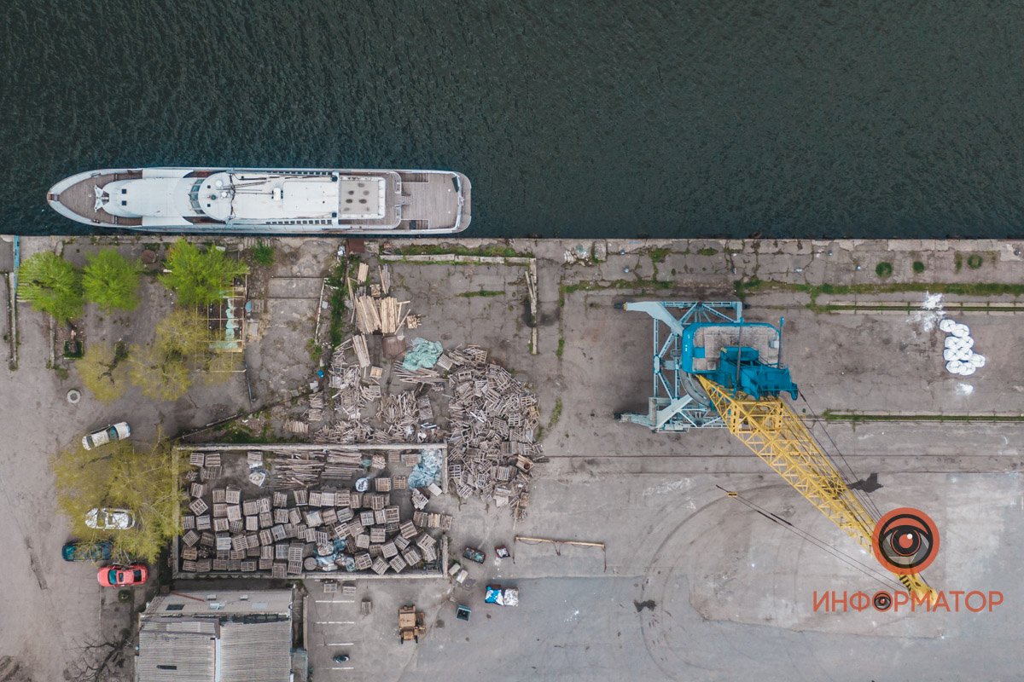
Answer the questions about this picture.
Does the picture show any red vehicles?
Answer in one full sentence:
Yes, this view includes a red vehicle.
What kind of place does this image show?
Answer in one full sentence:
The area seen from above is a port.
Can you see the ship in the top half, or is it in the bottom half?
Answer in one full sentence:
The top half of the photo is where the ship is.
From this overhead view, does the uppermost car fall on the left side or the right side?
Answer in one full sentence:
The uppermost car appears in the left half of the scene.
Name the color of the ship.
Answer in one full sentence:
The color of the ship is white.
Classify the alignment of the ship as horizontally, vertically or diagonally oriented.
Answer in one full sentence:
What the image shows is the ship lying horizontally.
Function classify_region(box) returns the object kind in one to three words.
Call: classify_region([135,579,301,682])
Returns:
building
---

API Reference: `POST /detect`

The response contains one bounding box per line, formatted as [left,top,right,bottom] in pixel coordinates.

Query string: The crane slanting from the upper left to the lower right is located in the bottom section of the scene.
[614,296,939,610]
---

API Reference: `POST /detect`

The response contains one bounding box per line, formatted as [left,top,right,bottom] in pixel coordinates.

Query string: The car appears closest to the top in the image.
[80,421,134,450]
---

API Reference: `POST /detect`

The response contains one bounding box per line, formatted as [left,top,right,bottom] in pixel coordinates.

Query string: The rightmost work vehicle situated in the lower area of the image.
[399,603,426,644]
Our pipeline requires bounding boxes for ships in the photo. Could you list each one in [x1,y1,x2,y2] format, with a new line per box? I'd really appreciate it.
[47,166,472,236]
